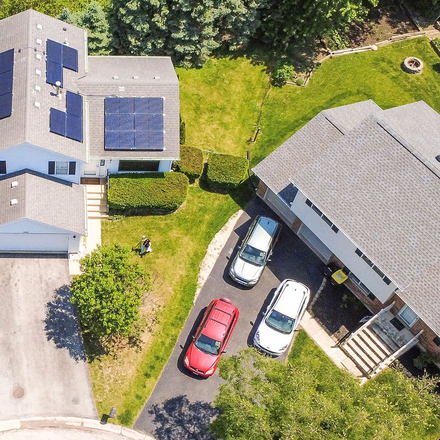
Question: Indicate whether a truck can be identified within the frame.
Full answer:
No, no truck is visible in the scene.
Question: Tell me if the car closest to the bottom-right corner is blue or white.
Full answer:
The color of the car closest to the bottom-right corner is white.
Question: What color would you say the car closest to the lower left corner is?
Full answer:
The color of the car closest to the lower left corner is red.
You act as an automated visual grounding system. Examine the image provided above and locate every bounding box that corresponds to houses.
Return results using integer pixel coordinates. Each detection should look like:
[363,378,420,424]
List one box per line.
[249,99,440,379]
[0,9,180,254]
